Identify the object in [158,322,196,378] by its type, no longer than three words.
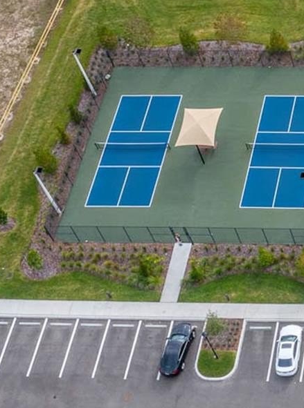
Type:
car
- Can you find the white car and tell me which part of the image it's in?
bottom right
